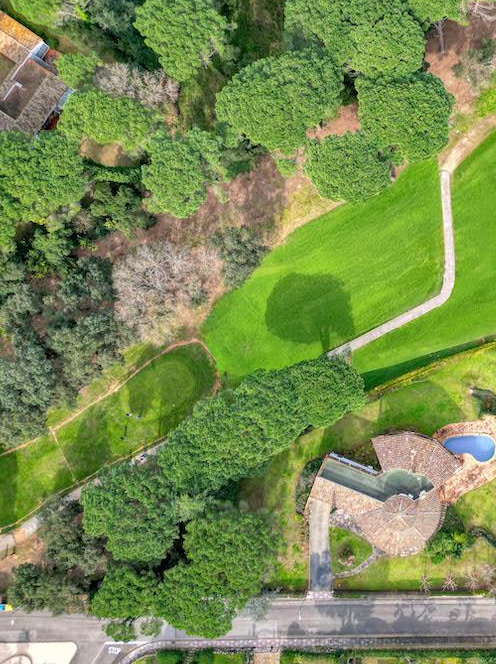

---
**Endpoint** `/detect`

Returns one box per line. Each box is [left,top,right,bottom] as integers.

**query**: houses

[0,13,74,128]
[306,431,464,557]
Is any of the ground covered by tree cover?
Yes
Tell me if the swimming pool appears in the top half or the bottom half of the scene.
bottom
